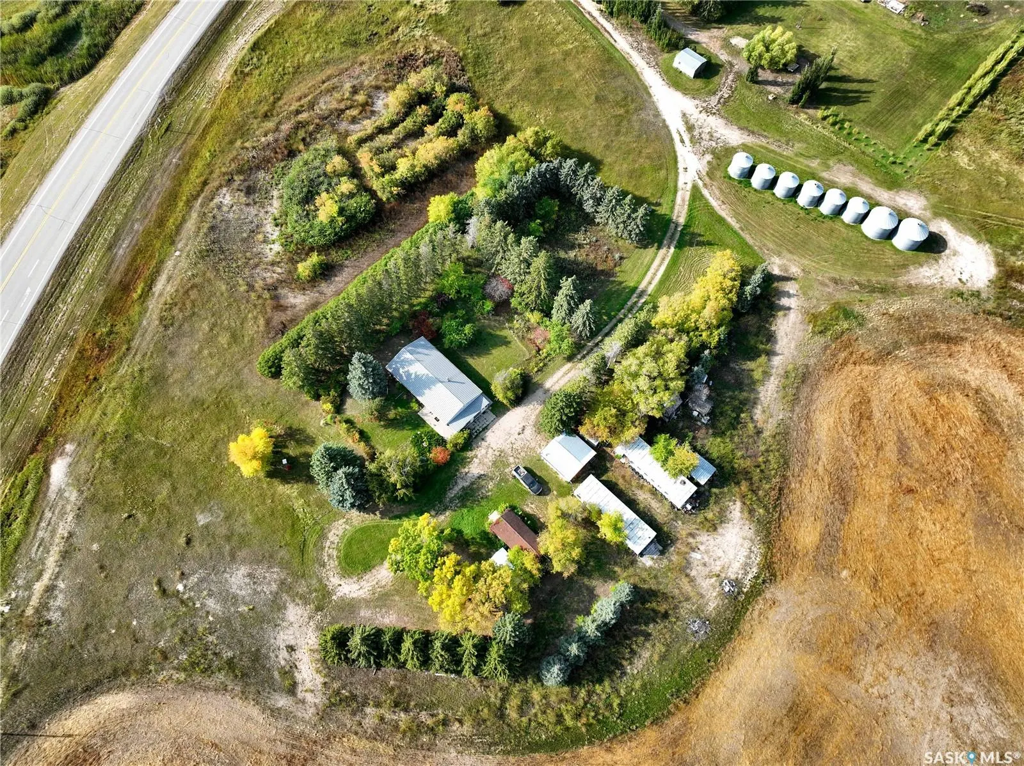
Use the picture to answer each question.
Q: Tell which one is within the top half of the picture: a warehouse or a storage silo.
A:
storage silo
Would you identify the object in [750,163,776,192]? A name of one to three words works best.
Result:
silo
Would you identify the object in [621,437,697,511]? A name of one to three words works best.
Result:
house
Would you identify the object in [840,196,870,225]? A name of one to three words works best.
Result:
silo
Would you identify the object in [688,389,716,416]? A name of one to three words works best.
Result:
shed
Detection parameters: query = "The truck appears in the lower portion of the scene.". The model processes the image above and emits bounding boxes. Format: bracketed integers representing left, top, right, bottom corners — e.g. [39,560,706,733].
[509,462,545,499]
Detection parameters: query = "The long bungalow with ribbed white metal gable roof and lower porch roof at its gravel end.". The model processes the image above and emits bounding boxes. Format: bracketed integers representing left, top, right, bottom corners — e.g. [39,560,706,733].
[385,337,491,435]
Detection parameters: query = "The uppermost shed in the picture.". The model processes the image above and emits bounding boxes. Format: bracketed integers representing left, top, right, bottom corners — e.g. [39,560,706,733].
[673,46,709,78]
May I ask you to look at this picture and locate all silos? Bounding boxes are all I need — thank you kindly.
[818,188,847,217]
[795,179,824,209]
[861,208,899,243]
[750,163,776,192]
[840,196,870,225]
[889,218,930,255]
[772,172,800,200]
[727,151,753,180]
